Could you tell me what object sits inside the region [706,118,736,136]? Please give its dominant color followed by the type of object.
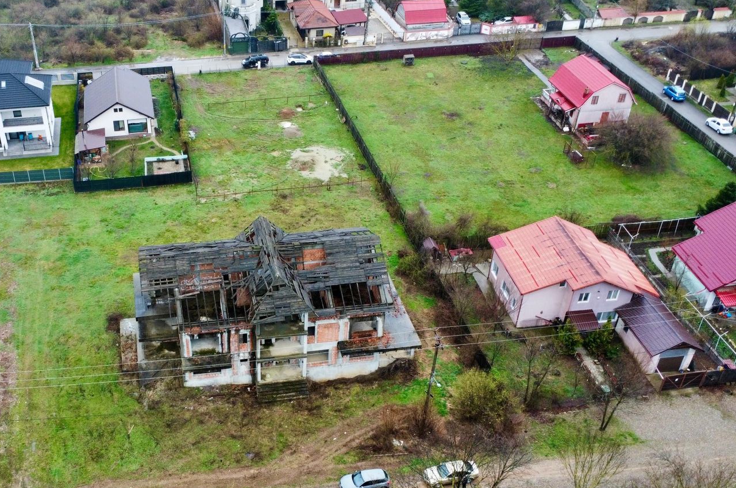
white car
